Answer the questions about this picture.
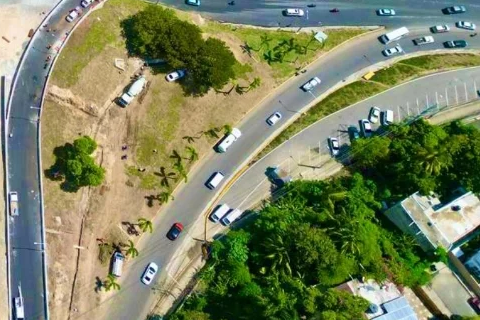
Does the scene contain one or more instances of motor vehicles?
Yes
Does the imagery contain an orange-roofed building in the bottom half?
No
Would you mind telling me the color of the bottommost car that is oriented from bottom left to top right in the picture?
white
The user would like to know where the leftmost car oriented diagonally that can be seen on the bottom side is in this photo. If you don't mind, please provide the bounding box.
[140,261,160,286]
